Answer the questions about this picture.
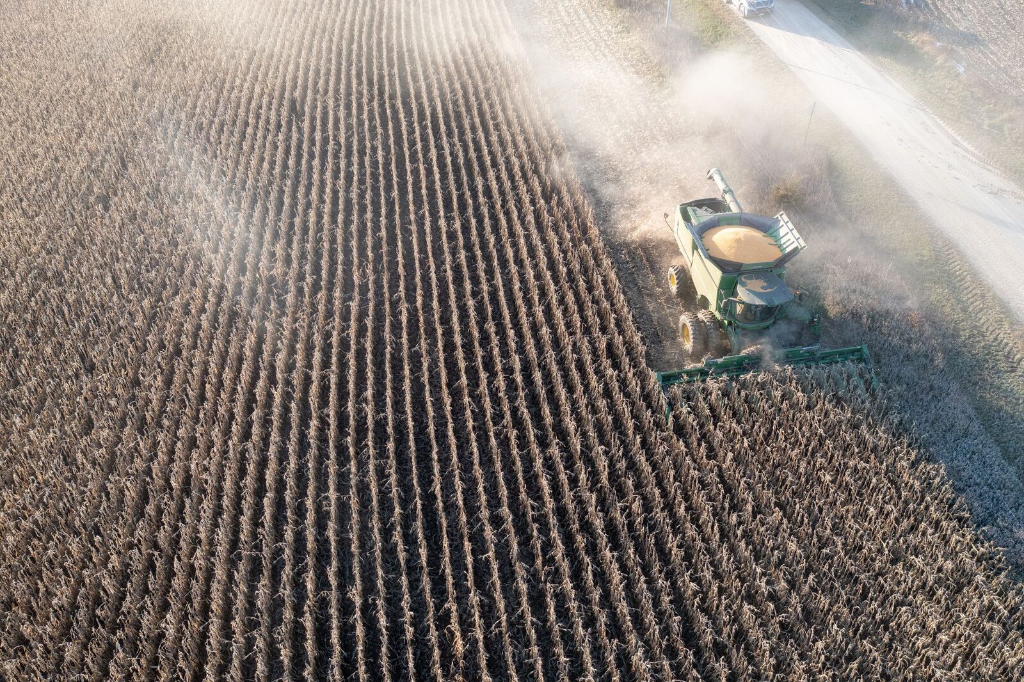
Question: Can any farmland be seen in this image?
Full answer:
Yes, the picture does contain farmland.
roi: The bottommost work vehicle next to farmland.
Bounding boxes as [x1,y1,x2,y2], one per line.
[656,165,887,422]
